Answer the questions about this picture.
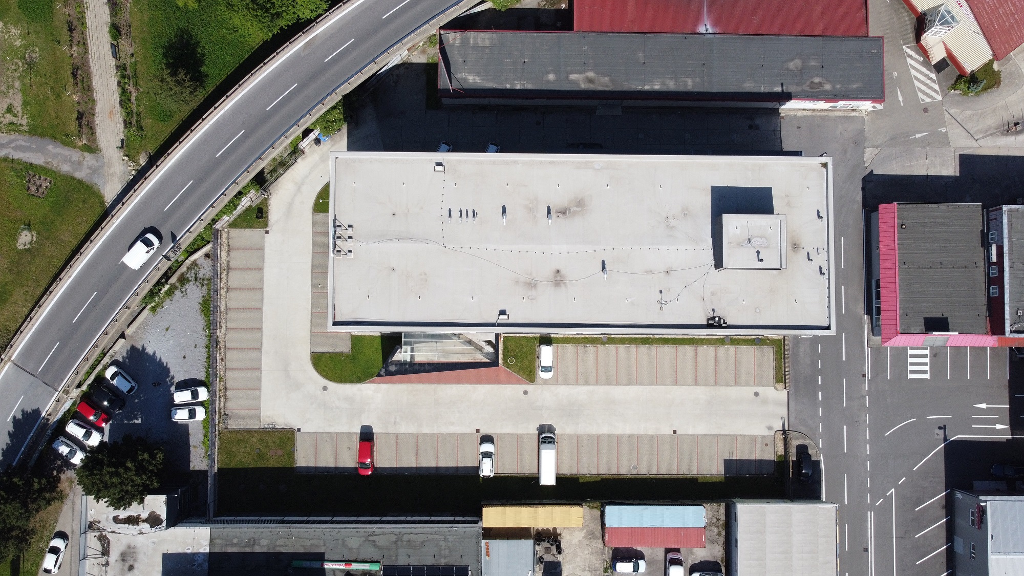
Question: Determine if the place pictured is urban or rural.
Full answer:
The area is urban.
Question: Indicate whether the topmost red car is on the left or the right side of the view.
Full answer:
It is on the left.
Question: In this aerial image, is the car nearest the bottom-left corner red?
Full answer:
No, the color of the car nearest the bottom-left corner is white.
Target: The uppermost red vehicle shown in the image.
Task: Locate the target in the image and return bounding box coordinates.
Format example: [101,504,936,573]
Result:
[74,399,113,427]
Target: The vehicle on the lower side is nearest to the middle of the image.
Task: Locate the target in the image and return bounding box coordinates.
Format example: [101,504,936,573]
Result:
[538,344,555,379]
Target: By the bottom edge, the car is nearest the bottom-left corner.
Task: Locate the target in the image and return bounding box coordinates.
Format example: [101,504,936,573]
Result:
[42,532,70,573]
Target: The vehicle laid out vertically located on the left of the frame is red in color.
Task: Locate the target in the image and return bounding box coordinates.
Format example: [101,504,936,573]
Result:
[357,440,374,475]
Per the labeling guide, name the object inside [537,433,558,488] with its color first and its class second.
white truck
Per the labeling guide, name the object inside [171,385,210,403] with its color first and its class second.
white car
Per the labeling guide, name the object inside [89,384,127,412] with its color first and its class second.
black car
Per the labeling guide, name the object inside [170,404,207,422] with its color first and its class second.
white car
